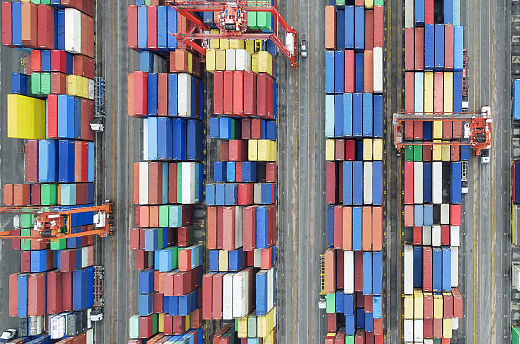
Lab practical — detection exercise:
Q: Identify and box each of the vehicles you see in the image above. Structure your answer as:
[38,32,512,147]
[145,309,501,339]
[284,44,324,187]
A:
[300,39,307,58]
[90,267,105,320]
[316,256,326,310]
[1,327,19,340]
[462,50,470,109]
[480,148,490,164]
[462,161,468,192]
[89,77,104,130]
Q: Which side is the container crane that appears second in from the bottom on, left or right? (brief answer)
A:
right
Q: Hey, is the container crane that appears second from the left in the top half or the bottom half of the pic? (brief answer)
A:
top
